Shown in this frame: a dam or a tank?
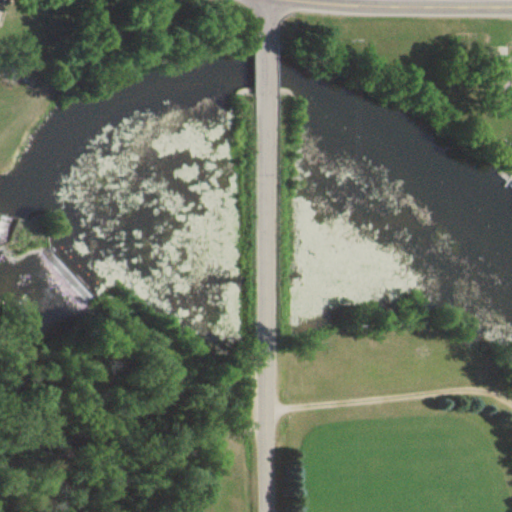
dam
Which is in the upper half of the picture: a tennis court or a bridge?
bridge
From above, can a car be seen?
No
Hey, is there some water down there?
Yes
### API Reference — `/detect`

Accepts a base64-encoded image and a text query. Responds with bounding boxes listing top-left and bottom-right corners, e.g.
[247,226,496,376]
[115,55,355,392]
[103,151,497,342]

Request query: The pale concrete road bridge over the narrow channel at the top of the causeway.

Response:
[235,52,295,102]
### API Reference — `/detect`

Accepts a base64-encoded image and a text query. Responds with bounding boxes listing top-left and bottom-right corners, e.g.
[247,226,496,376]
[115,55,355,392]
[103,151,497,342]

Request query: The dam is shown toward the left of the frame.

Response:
[44,240,96,303]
